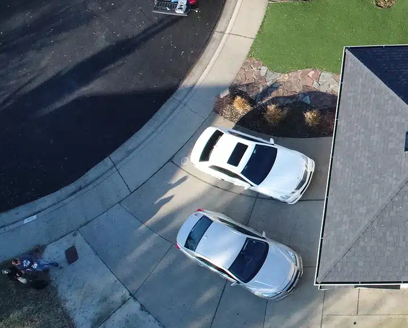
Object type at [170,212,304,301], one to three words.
car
